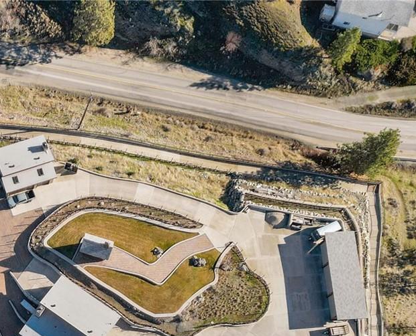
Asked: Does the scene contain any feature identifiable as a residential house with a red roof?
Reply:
No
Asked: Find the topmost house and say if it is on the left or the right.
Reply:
right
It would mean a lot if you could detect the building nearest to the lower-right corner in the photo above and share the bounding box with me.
[318,231,368,321]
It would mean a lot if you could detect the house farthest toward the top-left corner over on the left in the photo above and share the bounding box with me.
[0,136,57,199]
